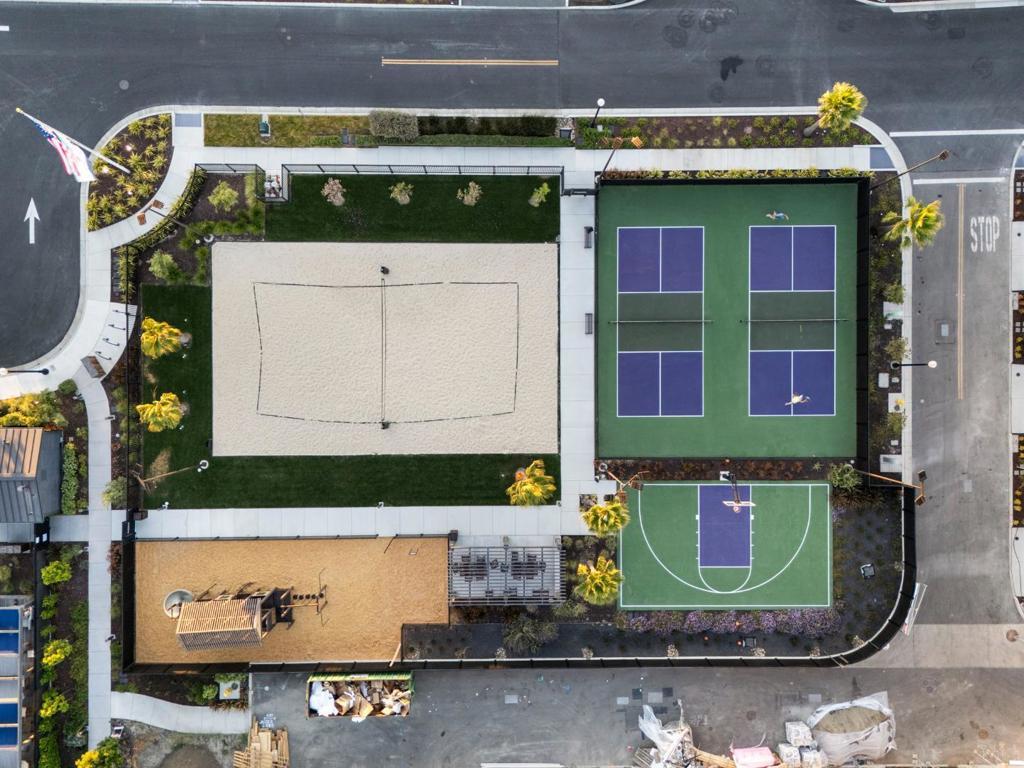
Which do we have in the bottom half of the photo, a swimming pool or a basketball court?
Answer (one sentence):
Visible in the bottom half of the photo is a basketball court.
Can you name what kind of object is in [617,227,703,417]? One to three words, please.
sports court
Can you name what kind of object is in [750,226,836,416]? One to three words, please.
sports court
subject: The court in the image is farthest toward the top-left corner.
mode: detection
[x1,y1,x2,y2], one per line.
[210,240,560,457]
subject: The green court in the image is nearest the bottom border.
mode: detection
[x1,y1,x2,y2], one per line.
[618,481,832,609]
